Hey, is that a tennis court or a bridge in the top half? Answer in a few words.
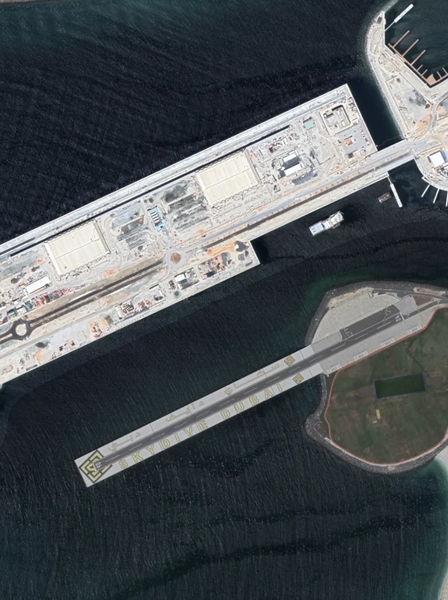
bridge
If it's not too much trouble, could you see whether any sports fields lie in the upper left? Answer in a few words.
No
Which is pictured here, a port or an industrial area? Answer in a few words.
port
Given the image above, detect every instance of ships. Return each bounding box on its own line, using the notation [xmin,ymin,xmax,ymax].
[309,211,344,235]
[378,192,391,203]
